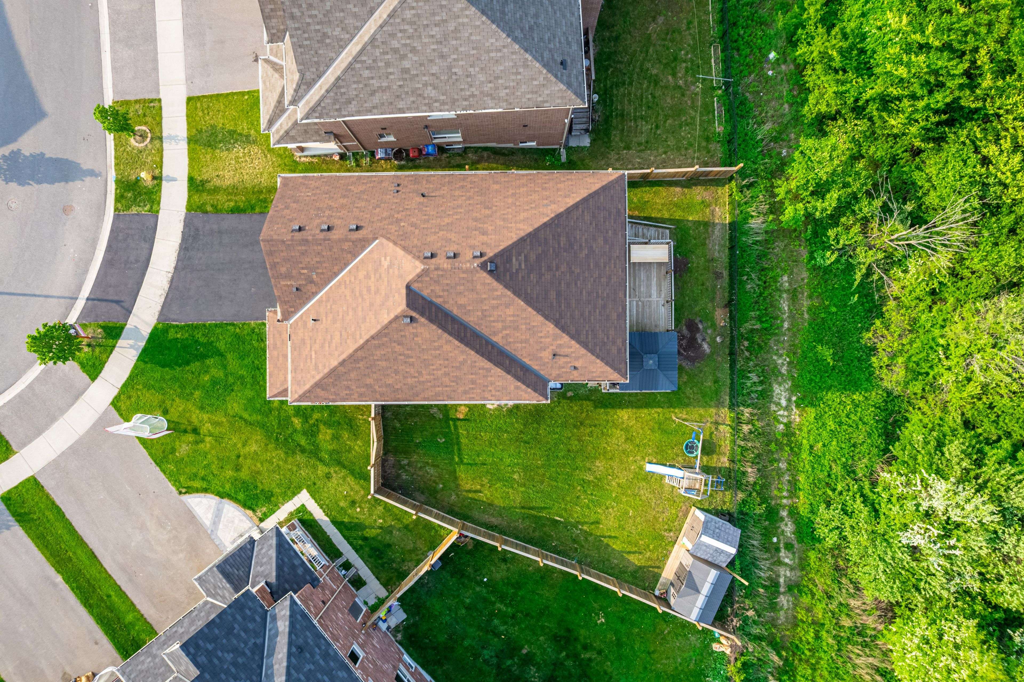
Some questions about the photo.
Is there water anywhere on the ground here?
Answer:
No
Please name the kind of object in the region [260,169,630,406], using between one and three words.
house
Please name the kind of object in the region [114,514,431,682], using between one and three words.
house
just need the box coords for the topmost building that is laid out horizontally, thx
[256,0,603,154]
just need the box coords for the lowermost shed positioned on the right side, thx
[667,552,733,626]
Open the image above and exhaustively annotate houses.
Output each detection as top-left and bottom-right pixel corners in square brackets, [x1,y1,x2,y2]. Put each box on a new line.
[114,514,431,682]
[260,169,630,406]
[256,0,603,154]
